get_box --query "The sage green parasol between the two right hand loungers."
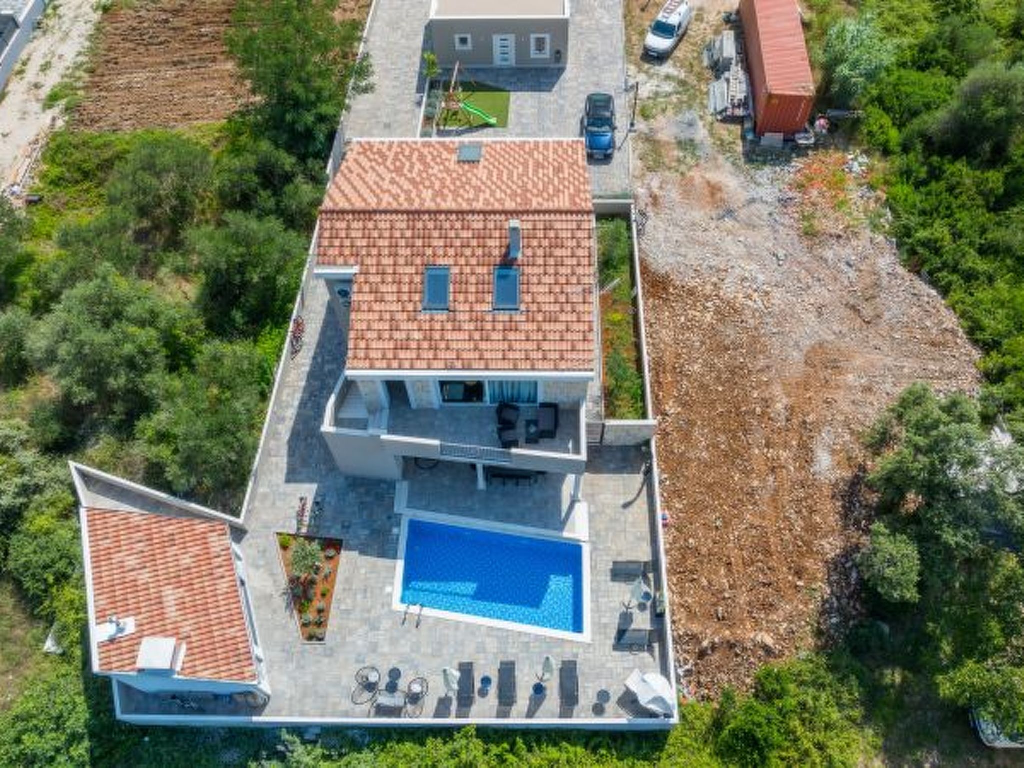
[622,575,642,612]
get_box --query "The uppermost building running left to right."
[432,0,573,66]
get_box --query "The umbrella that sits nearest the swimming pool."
[535,649,550,687]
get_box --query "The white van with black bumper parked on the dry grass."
[640,0,694,64]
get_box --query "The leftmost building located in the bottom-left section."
[79,503,276,691]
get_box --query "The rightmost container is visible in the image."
[738,0,822,134]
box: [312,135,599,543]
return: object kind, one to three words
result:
house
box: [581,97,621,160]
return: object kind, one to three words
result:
car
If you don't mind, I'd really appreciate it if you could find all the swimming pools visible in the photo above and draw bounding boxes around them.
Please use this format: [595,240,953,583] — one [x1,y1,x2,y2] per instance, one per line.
[386,514,594,644]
